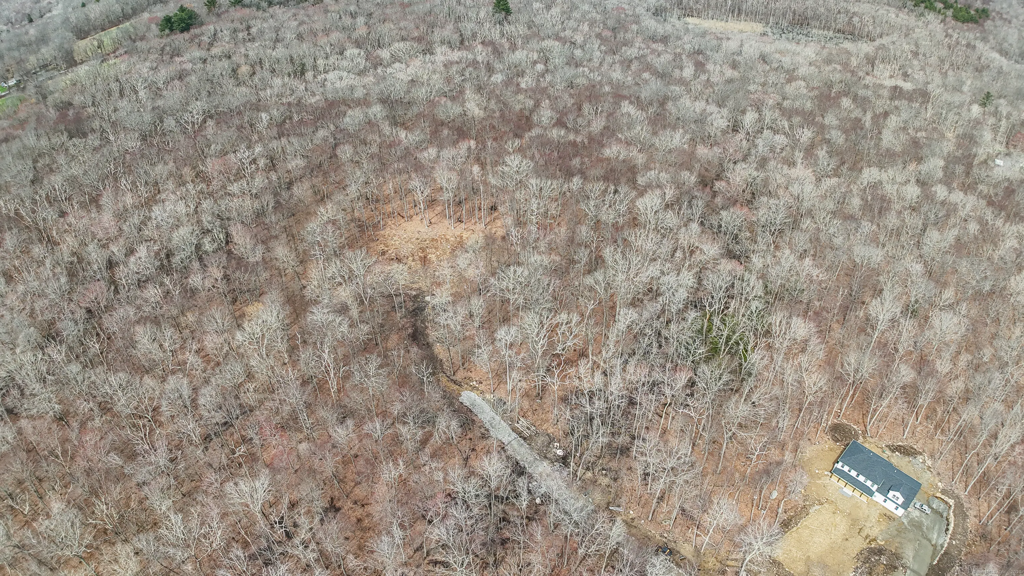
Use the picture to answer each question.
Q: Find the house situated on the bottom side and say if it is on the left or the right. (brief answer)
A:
right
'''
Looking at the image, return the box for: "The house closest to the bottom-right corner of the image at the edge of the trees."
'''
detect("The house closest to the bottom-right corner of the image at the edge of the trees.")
[828,440,922,515]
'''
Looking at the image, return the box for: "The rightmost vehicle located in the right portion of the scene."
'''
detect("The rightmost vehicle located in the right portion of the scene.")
[914,501,933,515]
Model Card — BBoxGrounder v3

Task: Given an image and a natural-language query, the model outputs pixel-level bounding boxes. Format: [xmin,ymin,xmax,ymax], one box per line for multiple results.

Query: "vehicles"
[656,545,675,560]
[914,501,933,515]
